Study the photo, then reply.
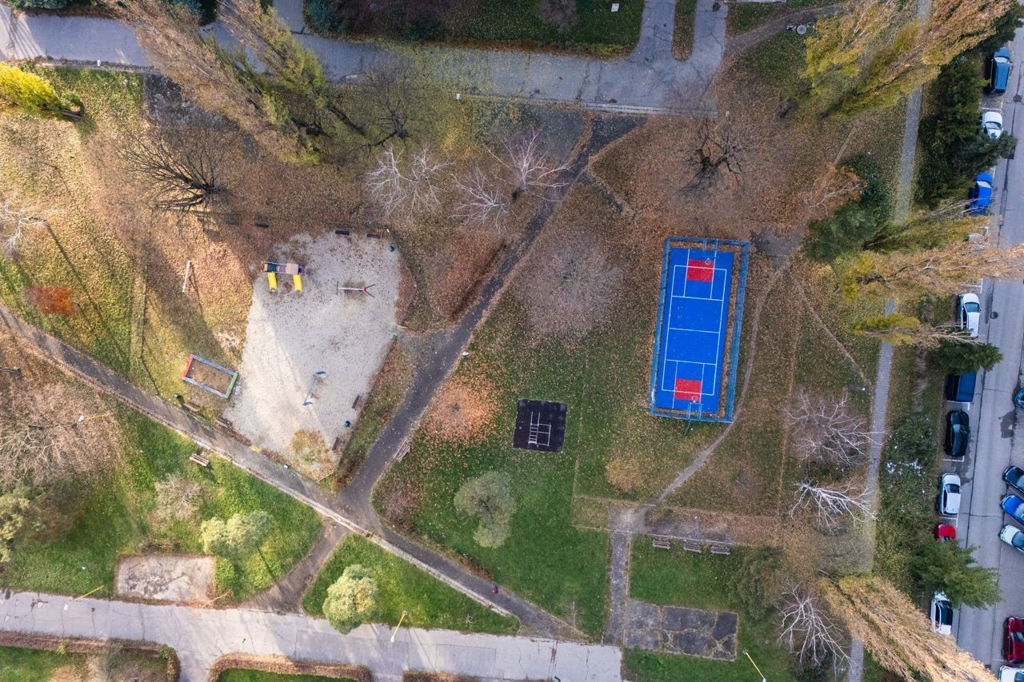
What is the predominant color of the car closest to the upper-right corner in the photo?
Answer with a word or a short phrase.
blue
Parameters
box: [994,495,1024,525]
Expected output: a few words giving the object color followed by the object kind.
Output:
blue car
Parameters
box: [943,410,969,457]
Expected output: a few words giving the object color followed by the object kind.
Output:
black car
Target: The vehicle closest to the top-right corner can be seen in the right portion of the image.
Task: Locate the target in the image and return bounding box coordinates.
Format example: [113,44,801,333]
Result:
[983,48,1013,97]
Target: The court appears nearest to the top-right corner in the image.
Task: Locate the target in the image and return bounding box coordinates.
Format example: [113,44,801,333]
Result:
[656,247,734,414]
